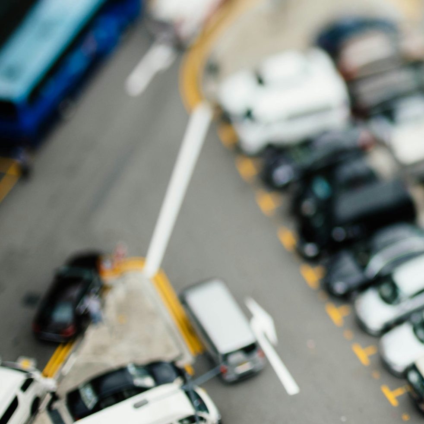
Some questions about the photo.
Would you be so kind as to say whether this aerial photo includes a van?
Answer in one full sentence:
Yes, I can see a van in this picture.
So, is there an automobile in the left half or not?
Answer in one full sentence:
Yes, an automobile appears in the left half.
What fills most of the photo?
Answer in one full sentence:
The scene is dominated by paved ground.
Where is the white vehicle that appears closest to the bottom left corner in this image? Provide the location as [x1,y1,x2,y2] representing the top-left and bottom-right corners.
[0,366,57,424]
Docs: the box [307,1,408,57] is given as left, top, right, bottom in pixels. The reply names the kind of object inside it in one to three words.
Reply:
car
